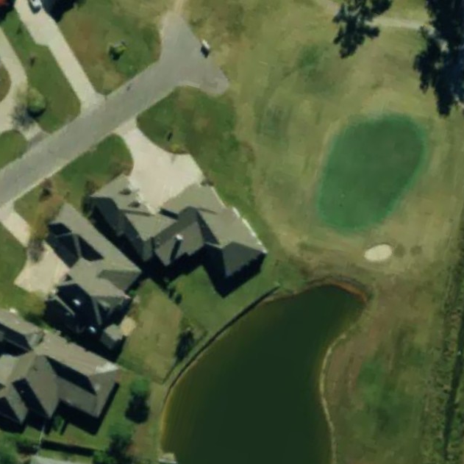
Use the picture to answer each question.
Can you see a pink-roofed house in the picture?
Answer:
No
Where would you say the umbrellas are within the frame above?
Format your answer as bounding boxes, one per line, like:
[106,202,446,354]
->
[121,317,136,333]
